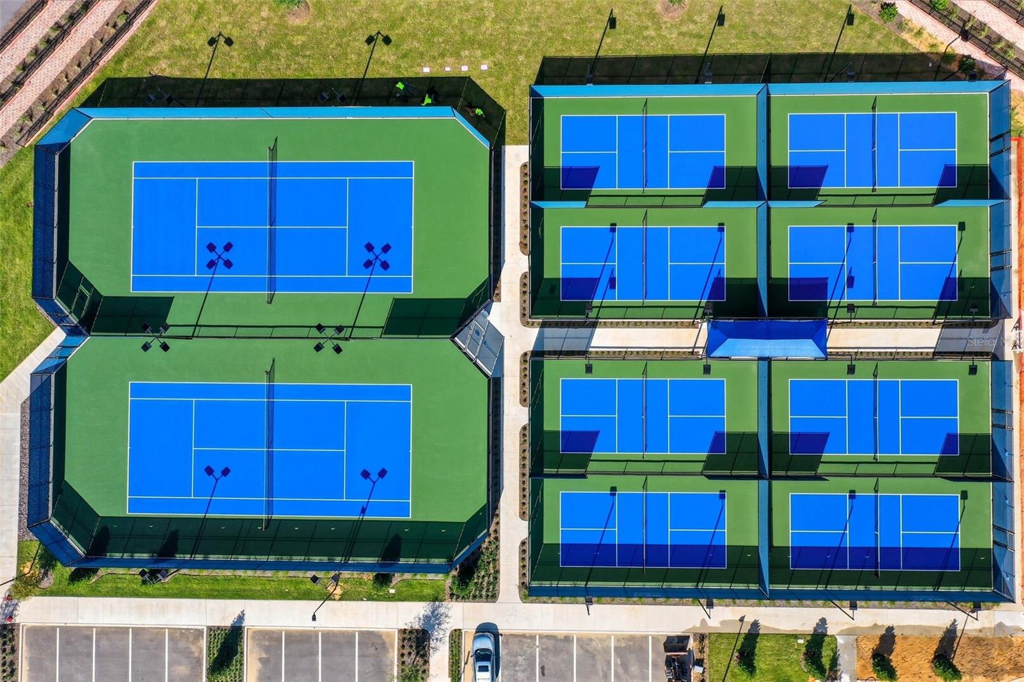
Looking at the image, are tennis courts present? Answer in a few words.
Yes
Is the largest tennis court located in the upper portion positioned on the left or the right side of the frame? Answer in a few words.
left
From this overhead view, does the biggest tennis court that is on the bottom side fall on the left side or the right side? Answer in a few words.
left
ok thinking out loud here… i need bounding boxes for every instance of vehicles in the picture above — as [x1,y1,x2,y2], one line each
[664,637,691,682]
[470,631,498,682]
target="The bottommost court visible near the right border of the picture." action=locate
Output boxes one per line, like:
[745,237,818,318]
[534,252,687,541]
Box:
[770,477,993,589]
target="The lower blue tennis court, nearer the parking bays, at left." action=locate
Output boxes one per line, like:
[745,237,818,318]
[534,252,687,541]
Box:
[53,337,489,562]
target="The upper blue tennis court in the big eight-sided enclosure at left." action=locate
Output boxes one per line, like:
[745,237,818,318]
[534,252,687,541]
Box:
[56,117,489,337]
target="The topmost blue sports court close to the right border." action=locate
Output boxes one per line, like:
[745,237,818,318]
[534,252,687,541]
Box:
[767,94,988,206]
